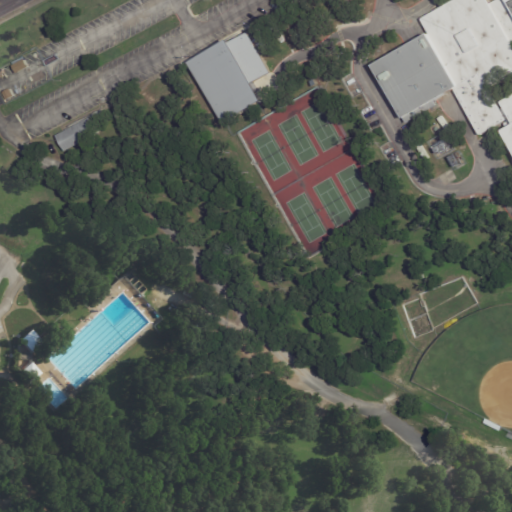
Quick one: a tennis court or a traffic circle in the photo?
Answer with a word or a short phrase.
tennis court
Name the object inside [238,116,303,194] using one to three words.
tennis court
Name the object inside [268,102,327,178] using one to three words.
tennis court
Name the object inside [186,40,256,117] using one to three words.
building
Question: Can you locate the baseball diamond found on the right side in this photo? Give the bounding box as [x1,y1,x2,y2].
[411,304,512,432]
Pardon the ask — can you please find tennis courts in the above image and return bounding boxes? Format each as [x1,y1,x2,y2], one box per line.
[327,150,386,224]
[292,86,351,164]
[274,178,335,254]
[302,164,361,236]
[268,102,327,178]
[238,116,303,194]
